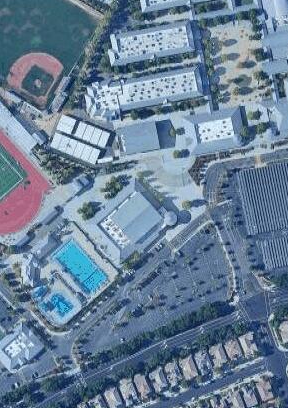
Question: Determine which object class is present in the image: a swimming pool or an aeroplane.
swimming pool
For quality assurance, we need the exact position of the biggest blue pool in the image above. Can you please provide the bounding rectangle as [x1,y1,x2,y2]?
[48,230,116,301]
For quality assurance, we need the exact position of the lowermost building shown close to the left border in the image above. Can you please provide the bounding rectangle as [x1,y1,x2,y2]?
[0,323,45,373]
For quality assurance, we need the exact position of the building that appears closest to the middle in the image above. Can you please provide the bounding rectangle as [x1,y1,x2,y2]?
[98,180,179,254]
